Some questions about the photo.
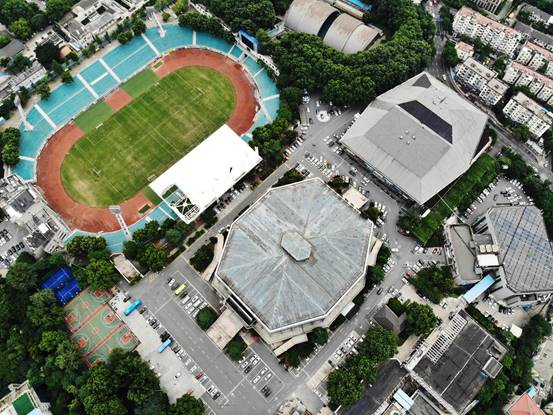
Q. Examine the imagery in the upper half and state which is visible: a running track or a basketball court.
running track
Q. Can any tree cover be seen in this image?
Yes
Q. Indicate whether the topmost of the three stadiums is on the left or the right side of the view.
left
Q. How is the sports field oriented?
on a diagonal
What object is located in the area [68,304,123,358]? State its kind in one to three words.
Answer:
basketball court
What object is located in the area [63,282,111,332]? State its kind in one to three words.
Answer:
basketball court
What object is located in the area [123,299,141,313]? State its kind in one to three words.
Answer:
vehicle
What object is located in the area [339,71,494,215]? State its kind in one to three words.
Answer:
building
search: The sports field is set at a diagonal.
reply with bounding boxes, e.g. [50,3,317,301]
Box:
[60,67,235,208]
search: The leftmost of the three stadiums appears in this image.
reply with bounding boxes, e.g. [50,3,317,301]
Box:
[19,29,280,251]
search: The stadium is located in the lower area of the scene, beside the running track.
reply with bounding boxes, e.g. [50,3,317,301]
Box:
[201,177,382,357]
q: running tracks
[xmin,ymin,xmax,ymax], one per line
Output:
[36,50,258,231]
